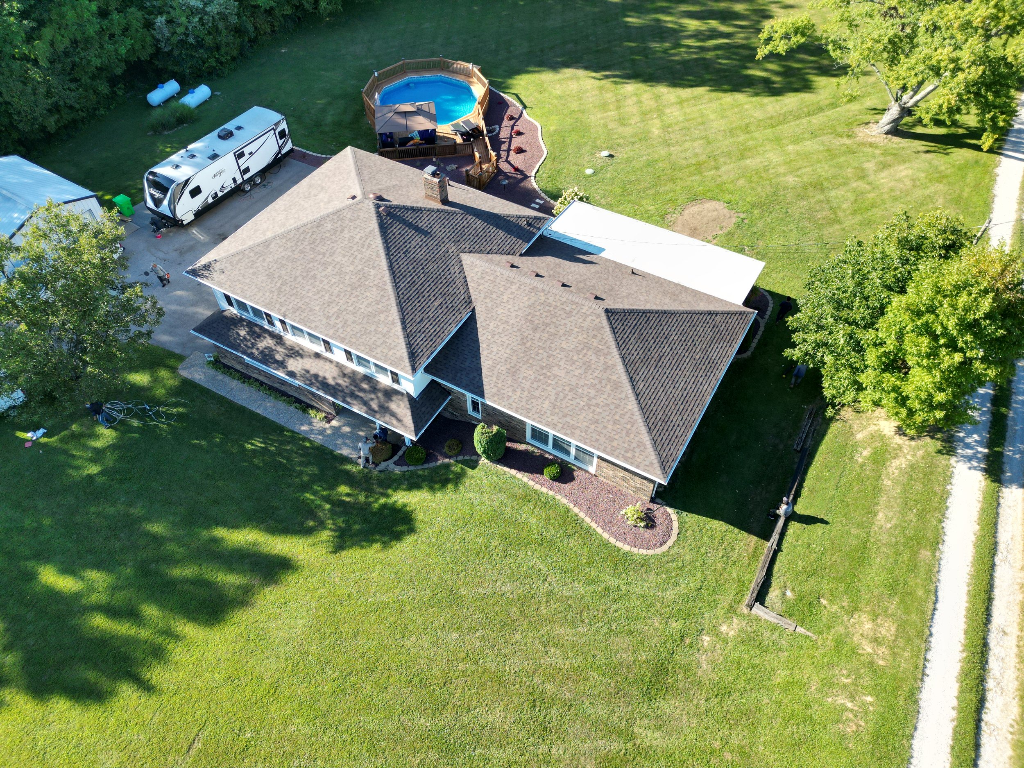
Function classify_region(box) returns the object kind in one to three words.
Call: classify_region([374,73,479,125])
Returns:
swimming pool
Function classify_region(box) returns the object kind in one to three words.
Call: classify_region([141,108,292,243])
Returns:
trailer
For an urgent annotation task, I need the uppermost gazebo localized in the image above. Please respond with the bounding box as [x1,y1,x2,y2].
[373,99,438,157]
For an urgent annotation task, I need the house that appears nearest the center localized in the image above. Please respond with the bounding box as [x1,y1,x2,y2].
[182,138,765,511]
